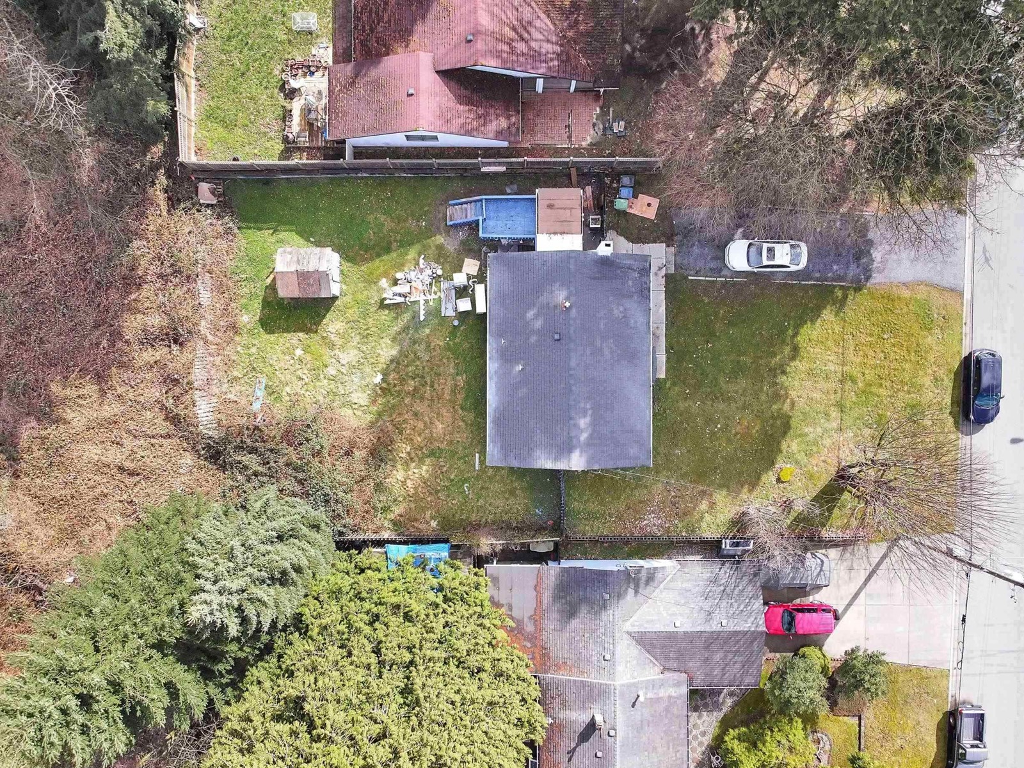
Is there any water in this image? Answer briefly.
No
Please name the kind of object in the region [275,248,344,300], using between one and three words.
shed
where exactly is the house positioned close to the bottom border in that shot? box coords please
[530,550,765,768]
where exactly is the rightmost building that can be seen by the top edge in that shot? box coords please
[326,0,623,160]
